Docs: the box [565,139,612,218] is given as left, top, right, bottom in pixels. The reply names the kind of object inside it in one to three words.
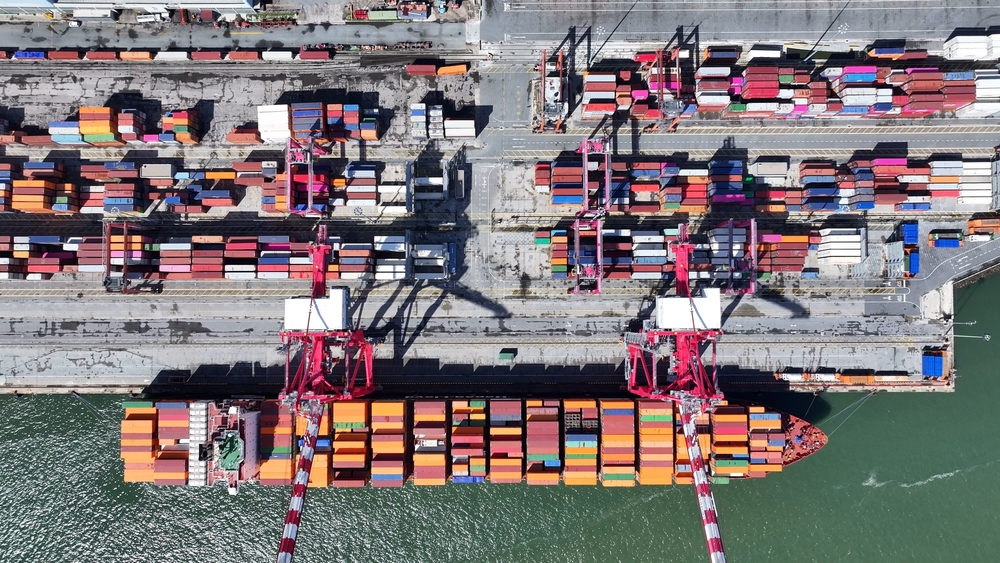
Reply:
container crane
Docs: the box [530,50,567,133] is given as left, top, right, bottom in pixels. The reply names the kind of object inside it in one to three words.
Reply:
container crane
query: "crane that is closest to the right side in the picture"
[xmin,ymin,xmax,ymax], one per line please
[699,220,758,295]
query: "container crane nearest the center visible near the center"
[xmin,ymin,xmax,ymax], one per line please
[558,221,605,295]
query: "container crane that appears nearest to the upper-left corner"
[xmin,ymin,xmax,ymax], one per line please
[104,222,169,295]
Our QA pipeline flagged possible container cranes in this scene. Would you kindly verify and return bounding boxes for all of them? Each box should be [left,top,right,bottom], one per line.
[634,47,681,133]
[286,139,339,218]
[530,50,567,133]
[273,226,384,563]
[699,220,758,295]
[565,139,612,218]
[558,221,605,295]
[618,226,729,563]
[104,222,169,295]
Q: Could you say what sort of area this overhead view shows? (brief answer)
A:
port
